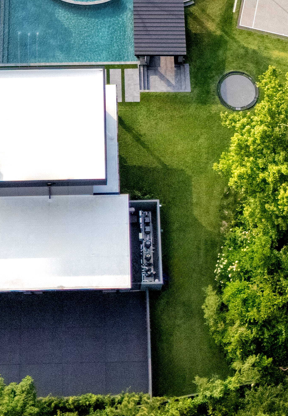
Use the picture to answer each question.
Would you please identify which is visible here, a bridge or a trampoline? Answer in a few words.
trampoline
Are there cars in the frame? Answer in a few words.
No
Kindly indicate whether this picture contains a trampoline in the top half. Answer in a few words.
Yes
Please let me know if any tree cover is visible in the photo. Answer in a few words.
Yes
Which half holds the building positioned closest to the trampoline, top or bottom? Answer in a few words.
top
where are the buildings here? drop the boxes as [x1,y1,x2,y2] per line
[133,0,194,93]
[0,67,131,295]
